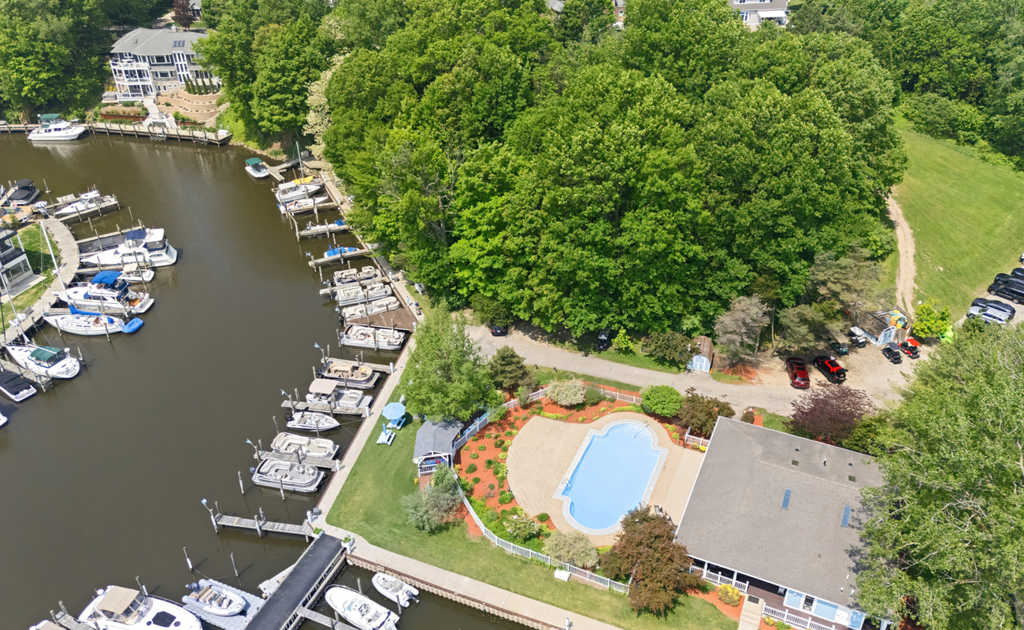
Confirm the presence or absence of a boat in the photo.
Yes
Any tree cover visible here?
Yes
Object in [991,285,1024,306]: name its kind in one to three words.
car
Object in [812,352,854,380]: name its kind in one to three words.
car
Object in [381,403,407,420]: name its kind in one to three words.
umbrella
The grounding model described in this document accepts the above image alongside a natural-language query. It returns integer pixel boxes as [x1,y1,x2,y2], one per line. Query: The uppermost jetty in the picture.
[0,123,230,153]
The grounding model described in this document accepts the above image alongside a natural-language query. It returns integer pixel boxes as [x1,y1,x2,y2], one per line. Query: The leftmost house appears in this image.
[0,224,34,293]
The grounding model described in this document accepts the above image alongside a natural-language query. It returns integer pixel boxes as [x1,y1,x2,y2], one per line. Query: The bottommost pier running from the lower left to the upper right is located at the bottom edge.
[244,539,346,630]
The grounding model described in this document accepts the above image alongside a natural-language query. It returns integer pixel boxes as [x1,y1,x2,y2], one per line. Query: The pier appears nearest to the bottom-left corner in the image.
[46,594,106,630]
